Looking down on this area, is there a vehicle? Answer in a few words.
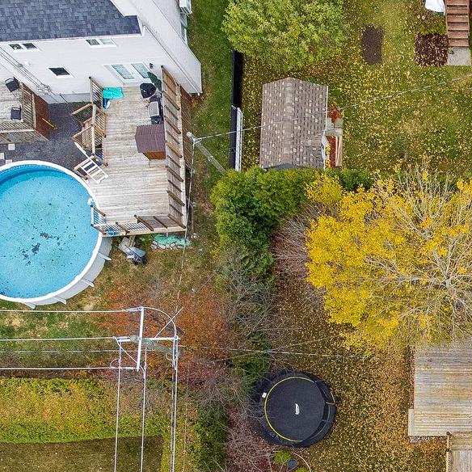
No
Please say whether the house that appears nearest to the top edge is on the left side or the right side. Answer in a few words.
left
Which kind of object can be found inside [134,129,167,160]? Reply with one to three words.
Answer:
shed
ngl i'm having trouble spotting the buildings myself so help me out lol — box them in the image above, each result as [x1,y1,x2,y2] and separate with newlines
[259,76,330,175]
[134,129,167,160]
[0,0,200,103]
